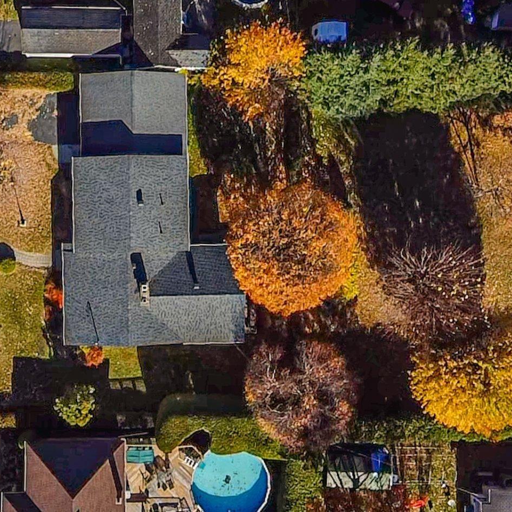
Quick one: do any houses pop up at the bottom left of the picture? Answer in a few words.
Yes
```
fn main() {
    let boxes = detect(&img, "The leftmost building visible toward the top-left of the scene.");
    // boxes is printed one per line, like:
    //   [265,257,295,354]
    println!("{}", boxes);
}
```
[16,6,121,57]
